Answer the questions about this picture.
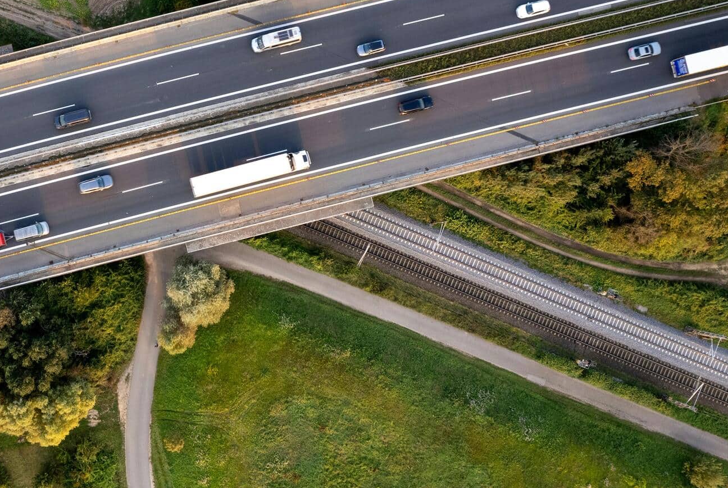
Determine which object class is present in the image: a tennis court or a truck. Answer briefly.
truck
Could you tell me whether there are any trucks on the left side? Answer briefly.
Yes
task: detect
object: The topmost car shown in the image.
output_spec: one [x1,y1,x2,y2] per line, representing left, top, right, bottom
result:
[514,1,549,20]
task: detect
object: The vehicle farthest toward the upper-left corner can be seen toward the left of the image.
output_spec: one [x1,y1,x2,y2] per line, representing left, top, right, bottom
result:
[55,109,92,129]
